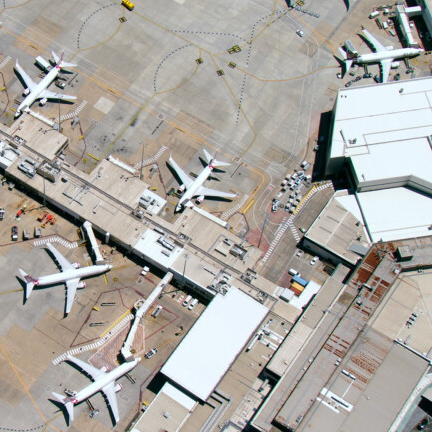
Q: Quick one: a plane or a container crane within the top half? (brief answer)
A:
plane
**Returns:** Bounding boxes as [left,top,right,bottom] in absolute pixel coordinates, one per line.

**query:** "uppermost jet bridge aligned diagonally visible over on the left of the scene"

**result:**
[19,103,60,133]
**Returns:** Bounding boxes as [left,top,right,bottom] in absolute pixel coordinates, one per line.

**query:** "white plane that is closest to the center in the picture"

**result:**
[170,149,237,212]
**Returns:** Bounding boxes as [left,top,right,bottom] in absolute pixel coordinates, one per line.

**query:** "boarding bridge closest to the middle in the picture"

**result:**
[178,196,230,230]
